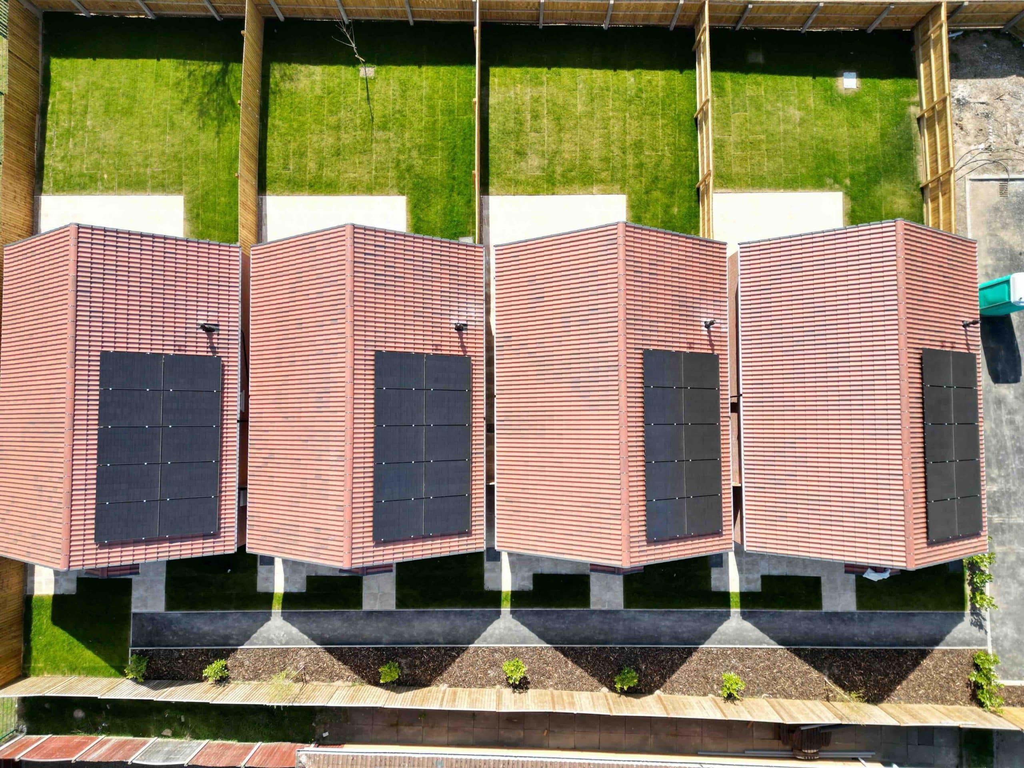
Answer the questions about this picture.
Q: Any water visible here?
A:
No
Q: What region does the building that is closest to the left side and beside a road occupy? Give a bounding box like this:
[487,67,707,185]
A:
[0,223,250,578]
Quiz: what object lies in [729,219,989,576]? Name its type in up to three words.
house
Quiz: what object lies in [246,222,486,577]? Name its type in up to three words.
house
